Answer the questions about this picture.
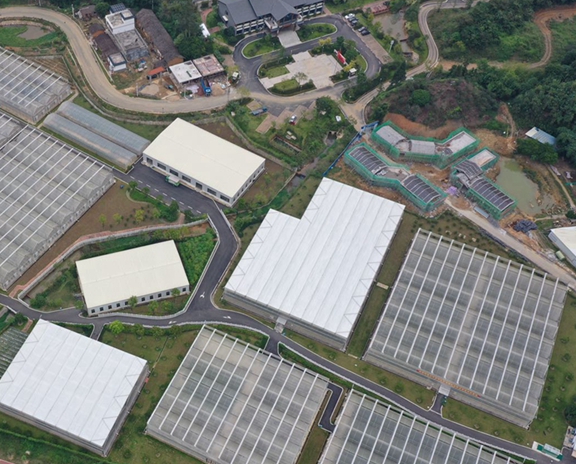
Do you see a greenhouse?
Yes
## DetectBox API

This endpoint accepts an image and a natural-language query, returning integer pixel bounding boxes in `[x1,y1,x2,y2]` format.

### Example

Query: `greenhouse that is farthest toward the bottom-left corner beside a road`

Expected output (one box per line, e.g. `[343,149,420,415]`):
[0,320,147,458]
